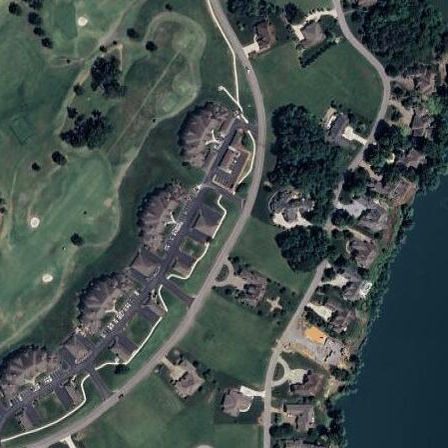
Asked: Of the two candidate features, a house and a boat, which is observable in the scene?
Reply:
house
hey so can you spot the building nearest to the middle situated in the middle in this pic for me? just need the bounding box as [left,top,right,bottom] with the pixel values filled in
[191,209,220,236]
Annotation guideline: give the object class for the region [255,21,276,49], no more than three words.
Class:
house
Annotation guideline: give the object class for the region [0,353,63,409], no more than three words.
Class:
building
